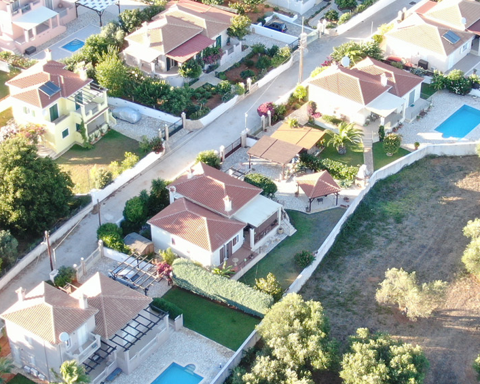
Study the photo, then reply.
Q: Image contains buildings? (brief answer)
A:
Yes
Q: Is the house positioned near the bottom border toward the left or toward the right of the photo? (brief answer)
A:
left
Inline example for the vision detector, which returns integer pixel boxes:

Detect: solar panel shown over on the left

[36,79,59,95]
